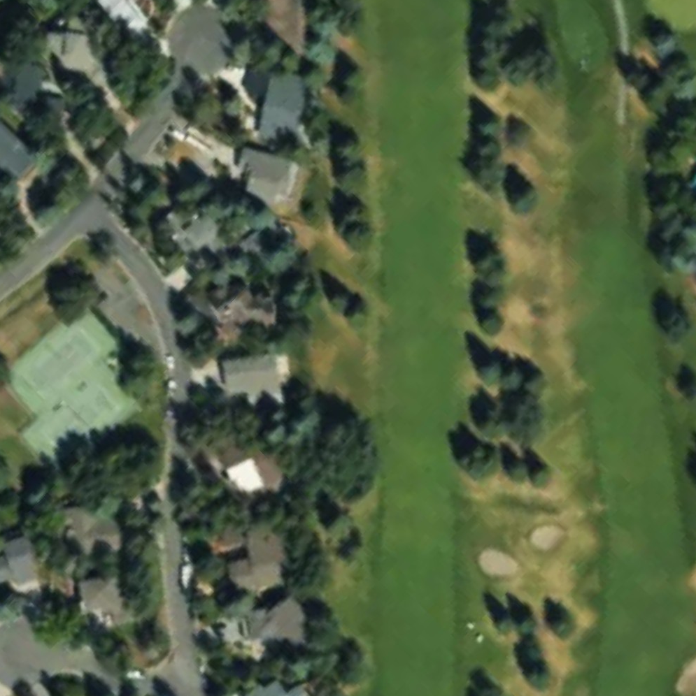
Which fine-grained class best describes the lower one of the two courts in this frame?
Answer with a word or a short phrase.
tennis court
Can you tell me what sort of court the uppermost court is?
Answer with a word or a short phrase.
tennis court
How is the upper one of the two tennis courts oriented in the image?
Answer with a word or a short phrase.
diagonally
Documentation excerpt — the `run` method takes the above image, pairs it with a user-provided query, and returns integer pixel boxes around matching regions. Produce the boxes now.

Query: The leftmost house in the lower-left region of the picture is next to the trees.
[0,539,39,589]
